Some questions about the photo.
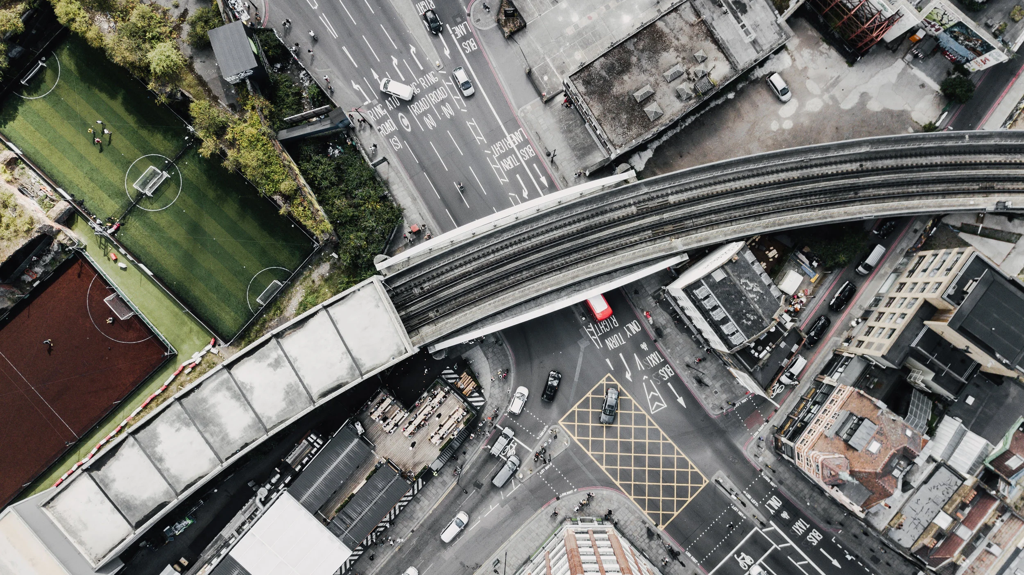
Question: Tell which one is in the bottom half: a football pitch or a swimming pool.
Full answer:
The one visible in the bottom half is a football pitch.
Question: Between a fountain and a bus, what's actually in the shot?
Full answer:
I can see a bus in this picture.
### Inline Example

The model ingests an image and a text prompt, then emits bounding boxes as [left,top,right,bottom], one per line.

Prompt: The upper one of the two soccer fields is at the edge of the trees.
[0,27,316,342]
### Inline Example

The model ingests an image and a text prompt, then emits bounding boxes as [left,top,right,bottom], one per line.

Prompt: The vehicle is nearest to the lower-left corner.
[156,503,201,545]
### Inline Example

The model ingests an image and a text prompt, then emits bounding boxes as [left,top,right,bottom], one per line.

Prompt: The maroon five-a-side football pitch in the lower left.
[0,252,173,505]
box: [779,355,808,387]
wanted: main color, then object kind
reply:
white car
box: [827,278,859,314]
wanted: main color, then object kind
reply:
black car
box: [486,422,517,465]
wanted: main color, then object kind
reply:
white truck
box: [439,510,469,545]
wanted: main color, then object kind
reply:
white car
